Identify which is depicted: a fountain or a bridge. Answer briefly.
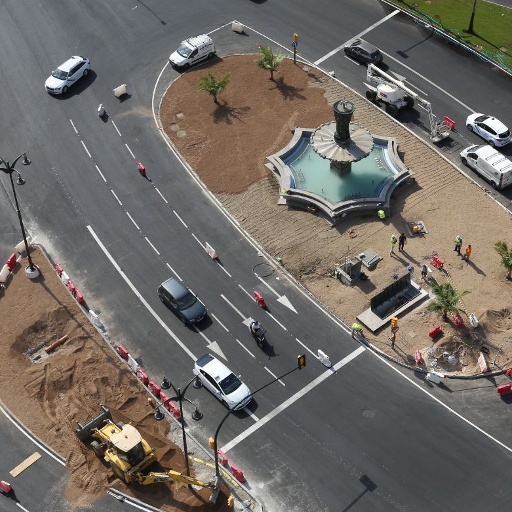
fountain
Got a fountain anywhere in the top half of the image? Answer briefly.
Yes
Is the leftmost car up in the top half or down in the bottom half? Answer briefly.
top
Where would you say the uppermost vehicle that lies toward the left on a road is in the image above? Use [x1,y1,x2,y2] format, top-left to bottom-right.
[168,31,218,70]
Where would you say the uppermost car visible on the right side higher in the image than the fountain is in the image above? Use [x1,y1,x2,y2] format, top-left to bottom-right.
[341,38,385,66]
